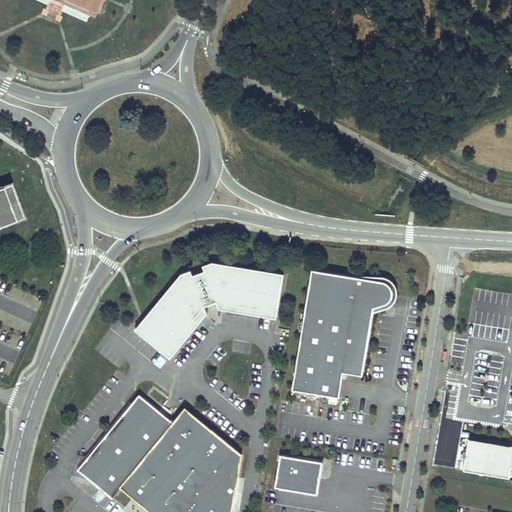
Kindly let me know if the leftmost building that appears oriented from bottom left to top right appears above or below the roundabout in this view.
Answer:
below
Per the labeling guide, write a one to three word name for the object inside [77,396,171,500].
building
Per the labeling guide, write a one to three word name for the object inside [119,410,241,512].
building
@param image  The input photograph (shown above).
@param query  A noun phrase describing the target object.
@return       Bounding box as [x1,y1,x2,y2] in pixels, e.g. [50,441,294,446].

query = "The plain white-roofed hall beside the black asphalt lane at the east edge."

[464,441,512,481]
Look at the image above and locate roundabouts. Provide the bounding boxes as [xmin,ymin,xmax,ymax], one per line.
[54,72,221,238]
